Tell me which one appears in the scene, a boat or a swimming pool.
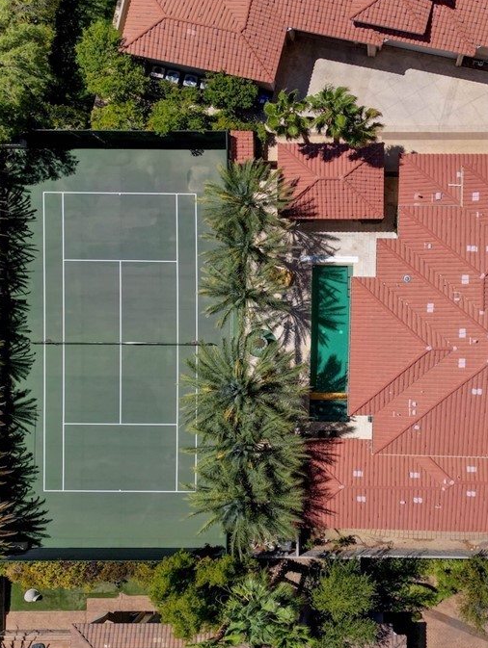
swimming pool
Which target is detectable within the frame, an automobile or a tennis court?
tennis court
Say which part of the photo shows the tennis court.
left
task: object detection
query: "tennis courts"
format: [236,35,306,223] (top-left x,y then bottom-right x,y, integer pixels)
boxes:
[1,141,235,549]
